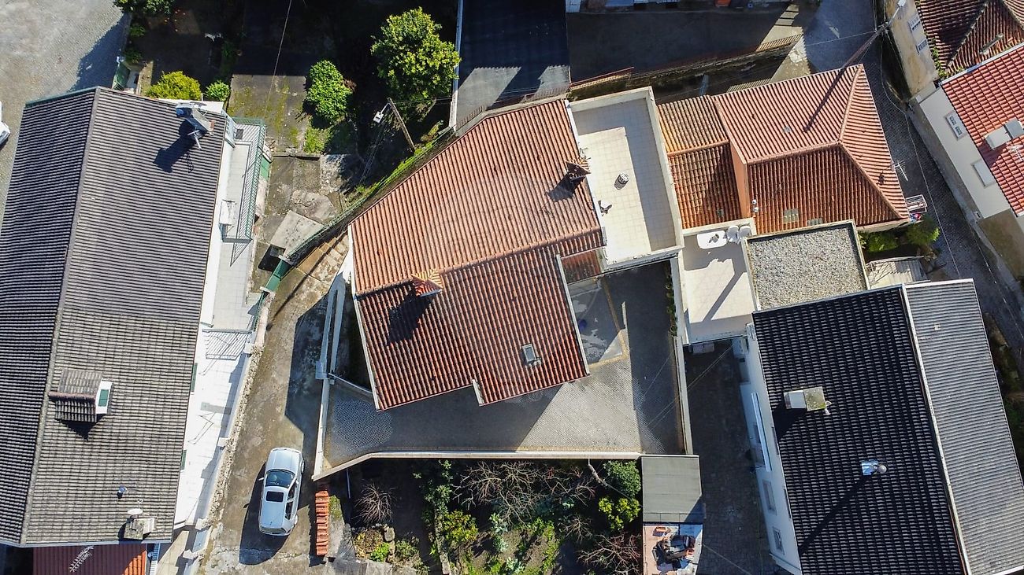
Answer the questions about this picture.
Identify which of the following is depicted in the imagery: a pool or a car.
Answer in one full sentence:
I can see a car in this picture.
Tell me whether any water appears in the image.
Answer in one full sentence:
No, there is no water in the image.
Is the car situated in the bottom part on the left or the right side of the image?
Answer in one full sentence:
The car situated in the bottom part is on the left side of the image.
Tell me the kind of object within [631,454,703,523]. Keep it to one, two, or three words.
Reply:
shed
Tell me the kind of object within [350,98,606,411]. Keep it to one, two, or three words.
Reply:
house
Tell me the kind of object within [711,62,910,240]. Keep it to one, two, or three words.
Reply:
house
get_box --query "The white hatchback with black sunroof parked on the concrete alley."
[255,450,302,538]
